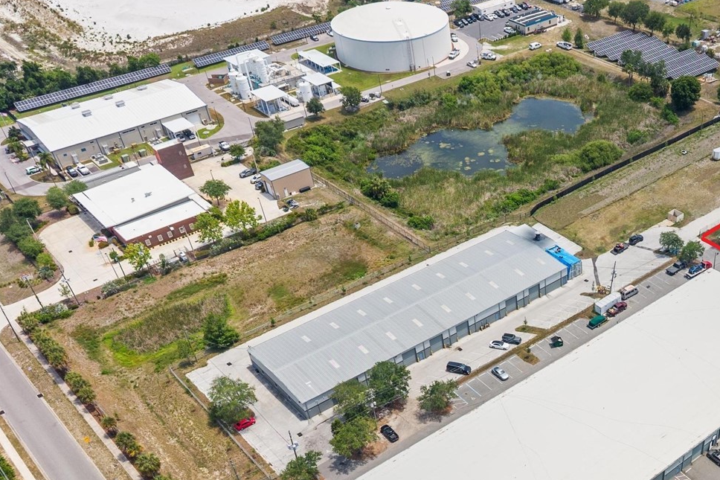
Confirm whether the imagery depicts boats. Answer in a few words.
Yes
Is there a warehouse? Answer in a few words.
Yes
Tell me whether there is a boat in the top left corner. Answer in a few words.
No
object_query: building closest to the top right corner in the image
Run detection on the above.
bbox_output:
[510,12,559,36]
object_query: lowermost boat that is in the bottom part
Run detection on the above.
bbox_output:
[581,306,611,330]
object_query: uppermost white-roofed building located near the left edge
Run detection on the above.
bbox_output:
[21,78,219,172]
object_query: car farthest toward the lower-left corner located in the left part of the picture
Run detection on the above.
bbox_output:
[232,416,255,434]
